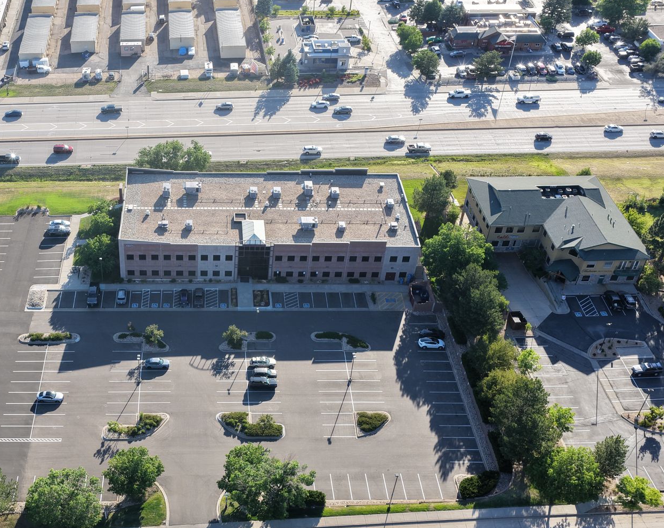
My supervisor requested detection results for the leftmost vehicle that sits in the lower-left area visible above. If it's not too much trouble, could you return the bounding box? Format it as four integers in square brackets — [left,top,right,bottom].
[36,392,65,404]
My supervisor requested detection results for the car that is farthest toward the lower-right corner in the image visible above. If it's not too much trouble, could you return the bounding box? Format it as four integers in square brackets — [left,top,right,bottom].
[632,363,662,377]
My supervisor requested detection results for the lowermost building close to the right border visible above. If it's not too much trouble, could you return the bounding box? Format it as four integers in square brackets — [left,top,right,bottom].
[462,176,649,296]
